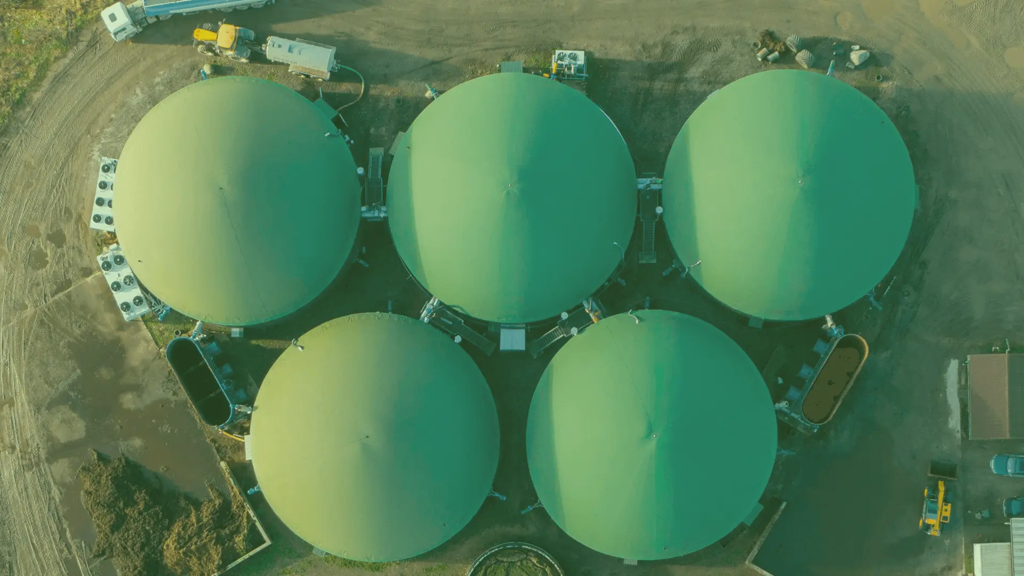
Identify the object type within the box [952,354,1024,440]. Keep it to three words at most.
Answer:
shed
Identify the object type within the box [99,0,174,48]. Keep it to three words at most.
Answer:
truck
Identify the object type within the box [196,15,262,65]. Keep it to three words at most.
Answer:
work vehicle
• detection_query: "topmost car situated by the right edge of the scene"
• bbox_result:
[988,453,1024,478]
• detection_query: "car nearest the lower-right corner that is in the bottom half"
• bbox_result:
[1001,494,1024,518]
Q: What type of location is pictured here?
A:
industrial area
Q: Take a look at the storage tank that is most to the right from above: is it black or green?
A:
green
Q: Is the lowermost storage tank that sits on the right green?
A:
Yes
